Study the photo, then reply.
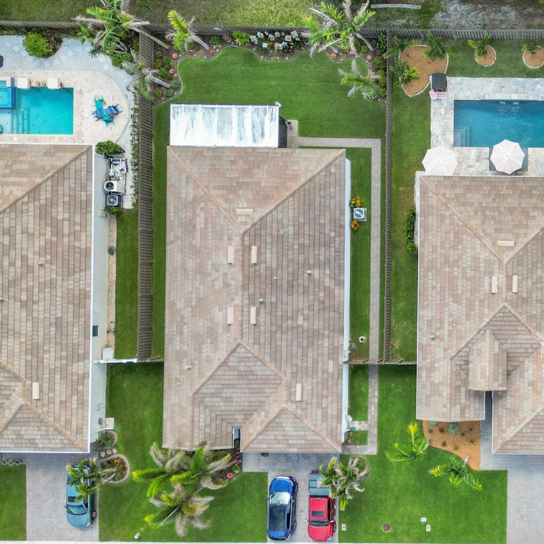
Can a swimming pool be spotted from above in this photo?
Yes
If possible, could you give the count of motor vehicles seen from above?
3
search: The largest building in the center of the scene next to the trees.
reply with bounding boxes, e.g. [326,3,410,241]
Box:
[163,145,353,454]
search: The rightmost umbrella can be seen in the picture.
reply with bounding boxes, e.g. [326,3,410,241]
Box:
[490,140,526,175]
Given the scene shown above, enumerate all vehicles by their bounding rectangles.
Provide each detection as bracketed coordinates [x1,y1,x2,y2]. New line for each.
[263,474,301,541]
[61,460,102,528]
[303,466,338,542]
